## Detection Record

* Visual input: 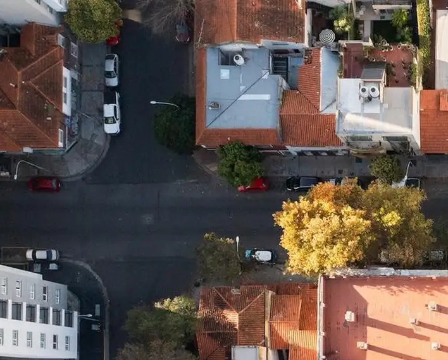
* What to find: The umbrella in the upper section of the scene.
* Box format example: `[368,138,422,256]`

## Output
[319,30,334,44]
